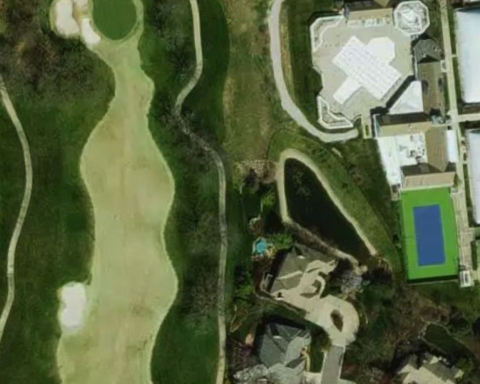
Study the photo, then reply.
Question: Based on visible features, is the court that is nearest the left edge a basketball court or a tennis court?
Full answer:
The court that is nearest the left edge in the image is a tennis court.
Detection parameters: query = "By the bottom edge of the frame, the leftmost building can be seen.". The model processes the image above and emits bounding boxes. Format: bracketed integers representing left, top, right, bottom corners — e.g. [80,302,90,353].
[255,323,308,384]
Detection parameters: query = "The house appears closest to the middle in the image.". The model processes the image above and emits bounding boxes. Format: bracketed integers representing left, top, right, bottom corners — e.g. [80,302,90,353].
[267,240,337,293]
